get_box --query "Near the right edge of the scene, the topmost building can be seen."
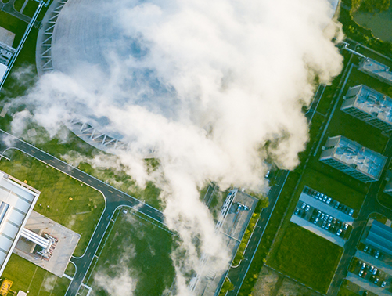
[356,57,392,86]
